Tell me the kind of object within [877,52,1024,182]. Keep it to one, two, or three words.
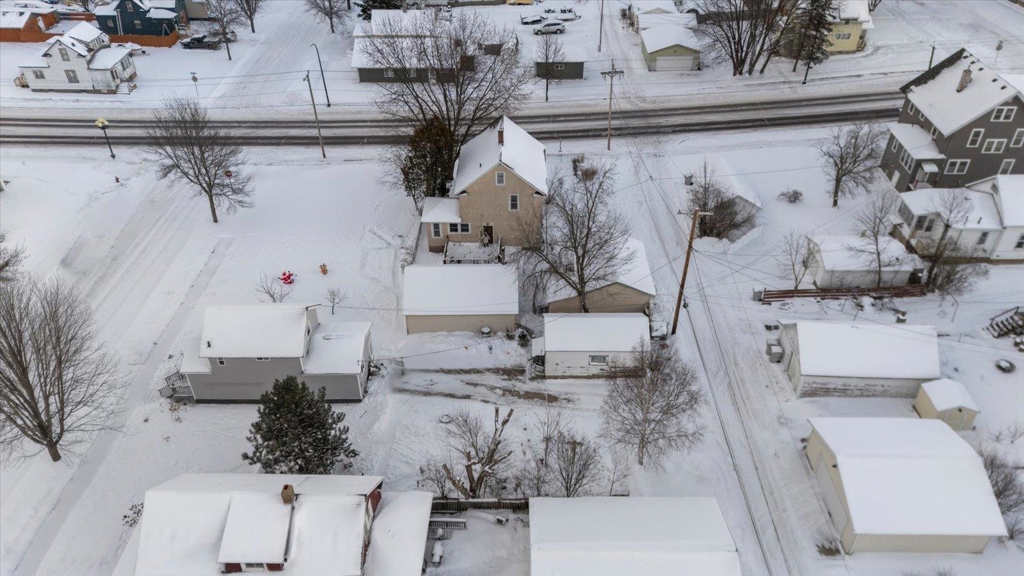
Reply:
house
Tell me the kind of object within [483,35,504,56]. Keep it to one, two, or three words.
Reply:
shed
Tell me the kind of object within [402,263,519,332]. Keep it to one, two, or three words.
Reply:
building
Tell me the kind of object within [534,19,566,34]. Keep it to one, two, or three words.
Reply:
car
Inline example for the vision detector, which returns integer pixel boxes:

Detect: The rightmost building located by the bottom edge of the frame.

[807,425,1003,555]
